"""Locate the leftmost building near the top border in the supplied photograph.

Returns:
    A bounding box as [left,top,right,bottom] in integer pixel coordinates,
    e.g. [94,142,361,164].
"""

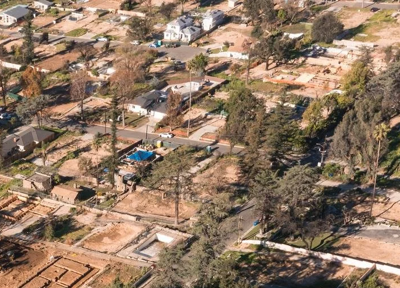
[0,5,30,25]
